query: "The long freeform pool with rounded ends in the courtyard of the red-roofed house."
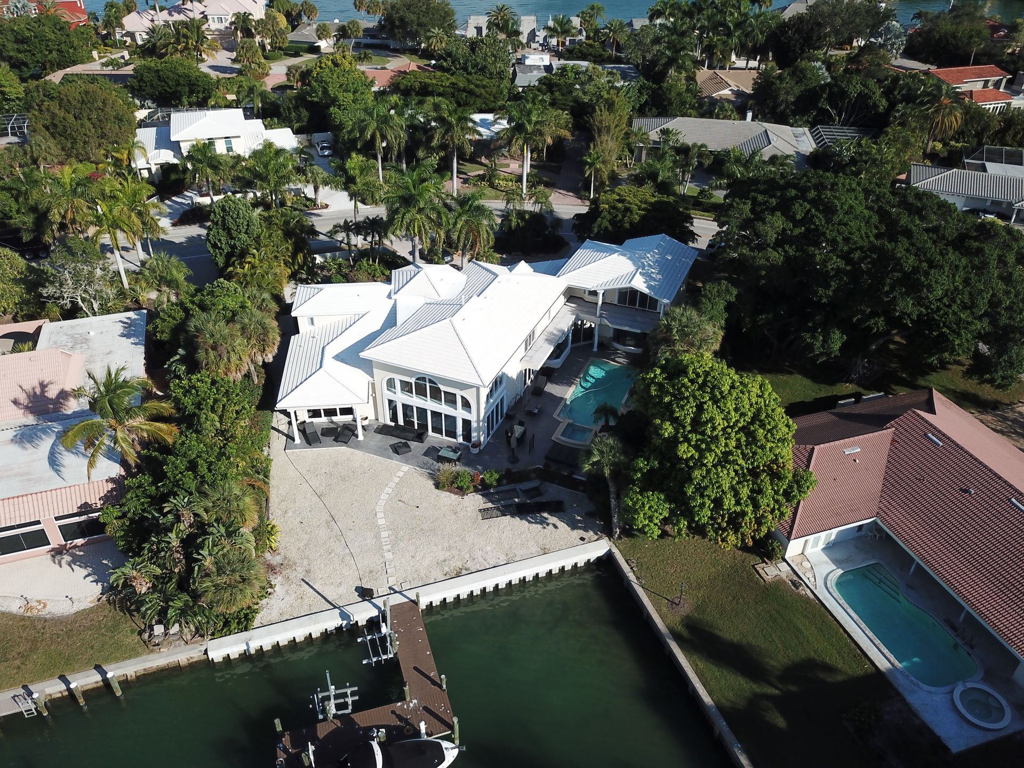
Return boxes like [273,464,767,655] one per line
[828,558,985,694]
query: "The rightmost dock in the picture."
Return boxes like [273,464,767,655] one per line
[276,601,464,768]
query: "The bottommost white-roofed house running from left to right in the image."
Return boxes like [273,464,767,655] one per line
[275,233,699,449]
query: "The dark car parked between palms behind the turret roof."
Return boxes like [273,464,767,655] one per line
[424,241,459,263]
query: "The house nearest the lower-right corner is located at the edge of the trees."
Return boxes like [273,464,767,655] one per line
[741,387,1024,708]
